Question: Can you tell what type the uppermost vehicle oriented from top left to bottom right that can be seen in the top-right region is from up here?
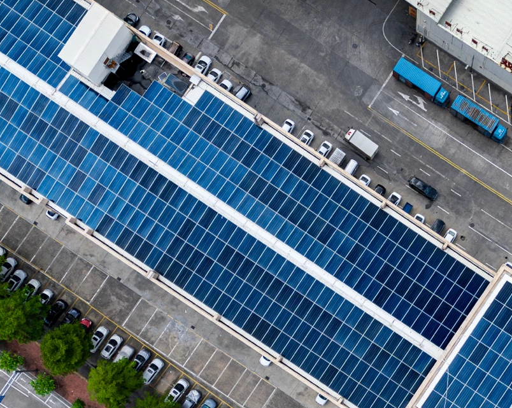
truck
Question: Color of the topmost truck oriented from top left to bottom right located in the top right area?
blue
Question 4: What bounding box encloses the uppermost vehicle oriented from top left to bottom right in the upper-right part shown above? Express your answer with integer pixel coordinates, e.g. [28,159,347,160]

[391,54,454,113]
